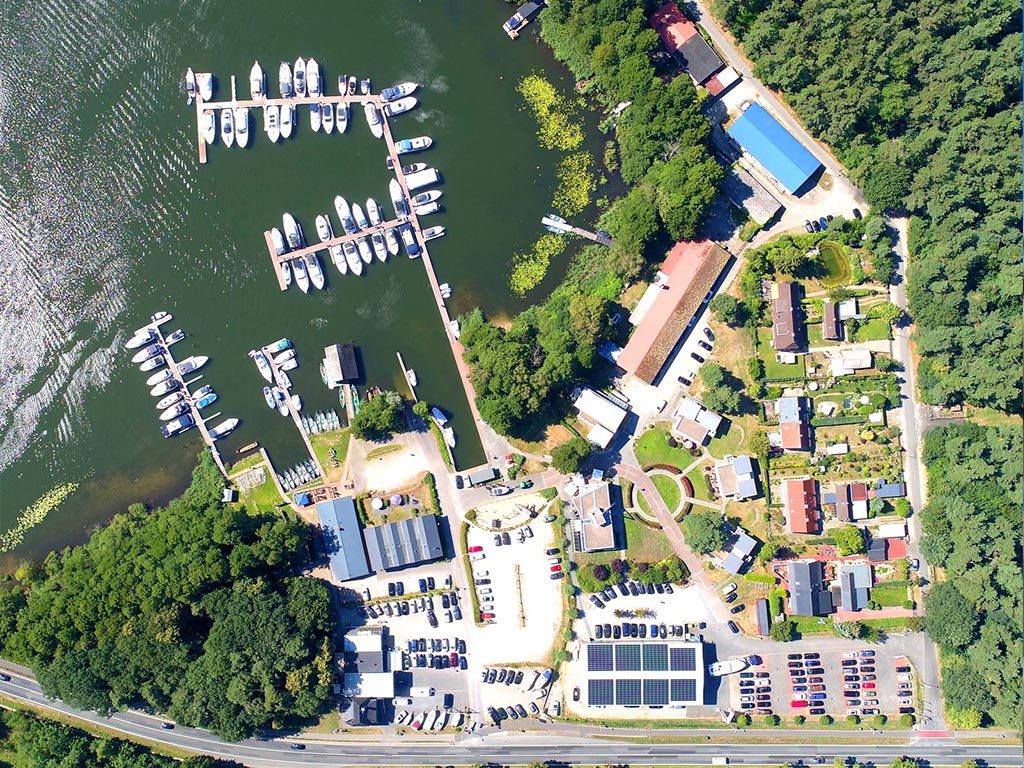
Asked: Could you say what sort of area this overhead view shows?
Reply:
port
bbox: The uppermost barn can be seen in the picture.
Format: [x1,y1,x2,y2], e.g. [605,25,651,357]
[649,1,697,55]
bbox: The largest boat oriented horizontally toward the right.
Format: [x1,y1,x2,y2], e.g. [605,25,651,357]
[710,659,750,677]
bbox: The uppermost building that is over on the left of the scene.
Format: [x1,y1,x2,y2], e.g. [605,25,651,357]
[323,344,359,388]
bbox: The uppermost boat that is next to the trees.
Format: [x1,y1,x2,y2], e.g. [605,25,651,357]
[503,0,549,33]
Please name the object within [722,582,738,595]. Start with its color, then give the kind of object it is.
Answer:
white vehicle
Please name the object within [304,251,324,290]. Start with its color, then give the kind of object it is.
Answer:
white boat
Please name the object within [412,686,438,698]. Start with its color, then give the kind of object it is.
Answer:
white vehicle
